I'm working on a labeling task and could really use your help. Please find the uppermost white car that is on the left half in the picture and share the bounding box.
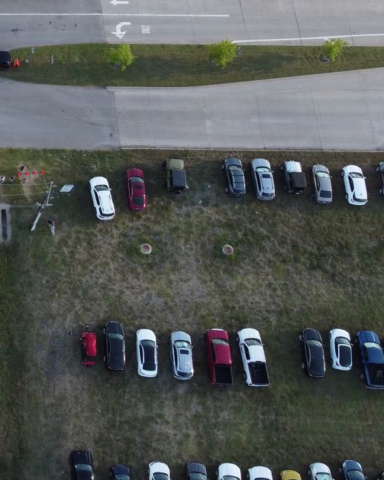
[88,178,116,223]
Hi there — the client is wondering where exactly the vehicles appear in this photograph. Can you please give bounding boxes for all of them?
[279,470,303,480]
[135,330,160,380]
[373,162,384,199]
[88,178,116,223]
[204,328,236,388]
[168,331,196,382]
[236,328,274,388]
[306,166,335,207]
[340,460,370,480]
[306,463,334,480]
[123,168,148,214]
[182,462,210,480]
[145,462,173,480]
[68,449,97,480]
[221,158,248,201]
[79,333,99,365]
[0,48,13,70]
[326,330,355,374]
[339,166,370,208]
[101,322,128,374]
[247,464,274,480]
[109,464,131,480]
[354,331,384,390]
[297,328,329,380]
[215,462,242,480]
[249,159,279,203]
